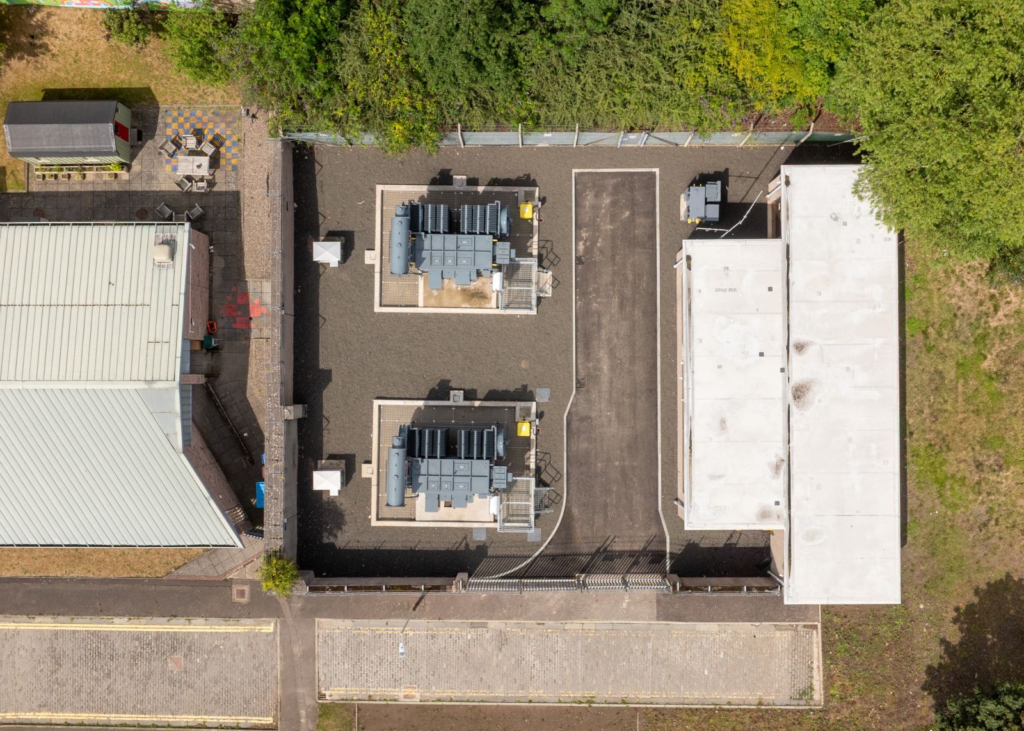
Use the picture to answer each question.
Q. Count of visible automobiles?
0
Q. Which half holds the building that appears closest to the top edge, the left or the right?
left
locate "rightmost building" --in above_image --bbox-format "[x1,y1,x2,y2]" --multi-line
[769,165,901,604]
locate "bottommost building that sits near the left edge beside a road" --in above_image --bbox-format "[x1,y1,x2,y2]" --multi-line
[0,220,255,552]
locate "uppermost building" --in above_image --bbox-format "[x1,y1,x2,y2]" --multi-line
[2,101,130,164]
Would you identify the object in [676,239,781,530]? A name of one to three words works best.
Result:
building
